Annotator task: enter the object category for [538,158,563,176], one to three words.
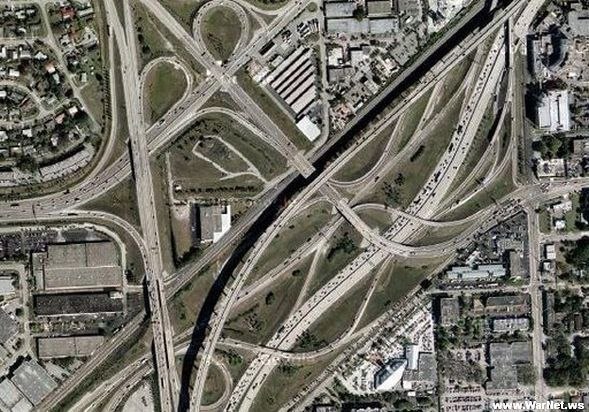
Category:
building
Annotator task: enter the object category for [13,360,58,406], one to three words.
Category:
building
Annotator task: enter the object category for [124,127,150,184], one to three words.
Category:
overpass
